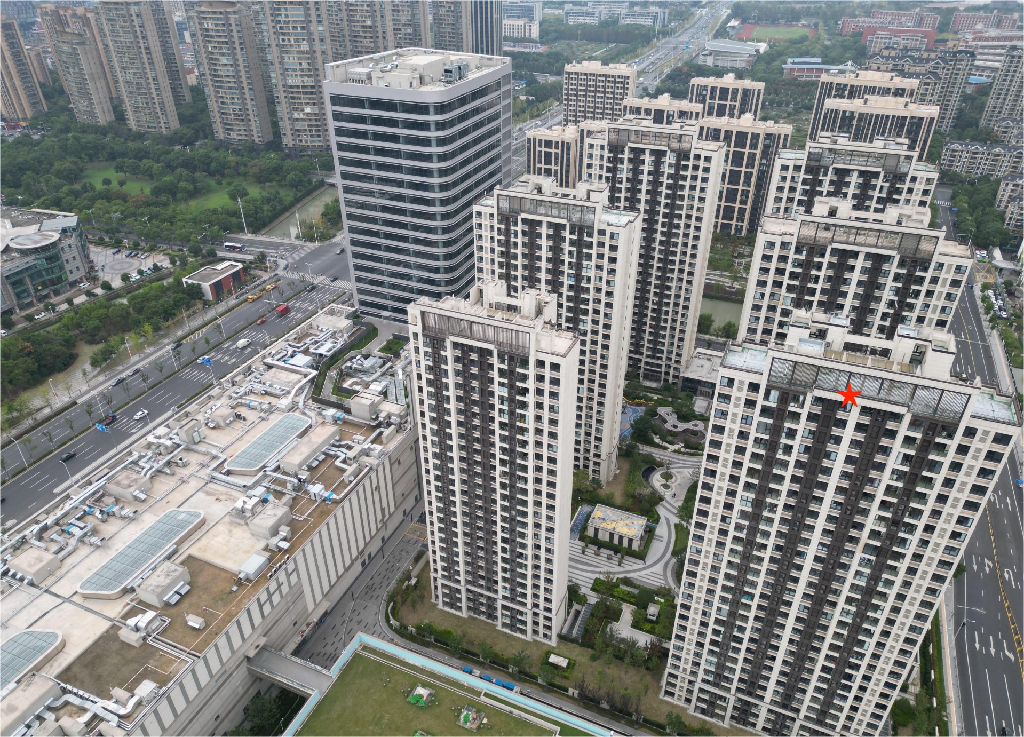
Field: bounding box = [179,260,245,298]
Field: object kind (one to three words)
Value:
building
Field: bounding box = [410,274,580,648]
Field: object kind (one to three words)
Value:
building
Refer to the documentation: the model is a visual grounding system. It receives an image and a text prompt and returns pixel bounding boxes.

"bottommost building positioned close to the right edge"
[659,308,1024,737]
